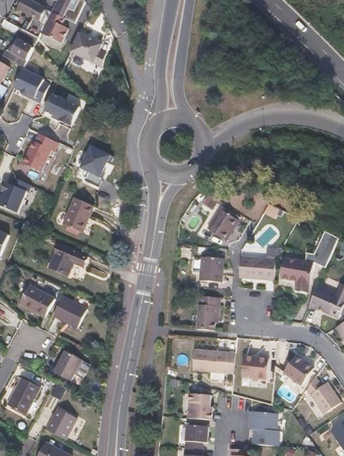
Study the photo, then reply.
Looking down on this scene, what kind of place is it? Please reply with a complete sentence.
What you see here is a residential area.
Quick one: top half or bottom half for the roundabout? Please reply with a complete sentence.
You can find the roundabout in the top half.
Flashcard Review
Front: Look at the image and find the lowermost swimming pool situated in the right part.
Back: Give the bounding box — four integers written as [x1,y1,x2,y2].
[277,386,298,403]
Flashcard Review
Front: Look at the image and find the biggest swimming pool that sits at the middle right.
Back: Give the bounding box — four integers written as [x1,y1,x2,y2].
[255,224,280,248]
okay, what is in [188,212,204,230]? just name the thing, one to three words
swimming pool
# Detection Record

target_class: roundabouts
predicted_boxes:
[142,110,212,182]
